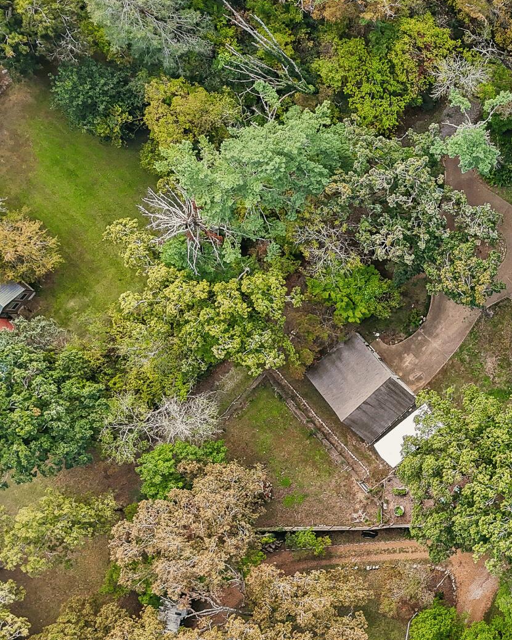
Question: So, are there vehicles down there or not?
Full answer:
No, there appears to be no vehicle in this shot.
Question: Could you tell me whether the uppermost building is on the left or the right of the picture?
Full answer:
You can find the uppermost building on the left side of the picture.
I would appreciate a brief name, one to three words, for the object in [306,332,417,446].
building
